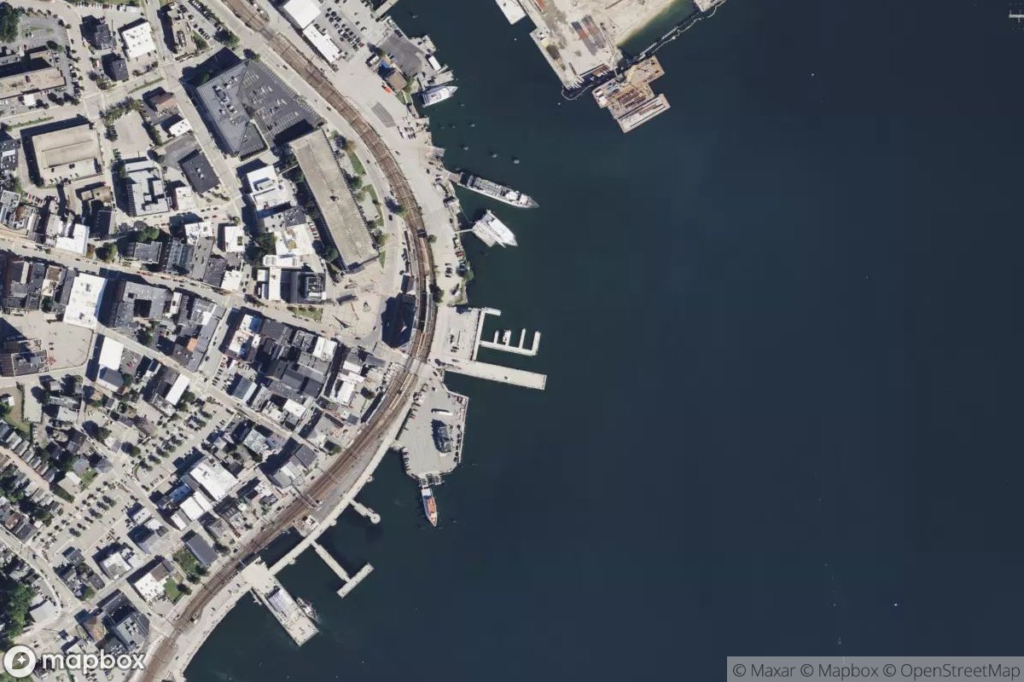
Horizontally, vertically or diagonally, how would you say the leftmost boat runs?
diagonally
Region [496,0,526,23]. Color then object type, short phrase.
white ship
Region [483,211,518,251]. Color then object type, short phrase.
white ship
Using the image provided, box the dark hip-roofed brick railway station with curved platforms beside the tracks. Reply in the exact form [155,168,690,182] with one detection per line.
[385,228,436,415]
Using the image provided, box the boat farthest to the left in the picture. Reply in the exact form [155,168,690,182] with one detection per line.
[296,597,316,619]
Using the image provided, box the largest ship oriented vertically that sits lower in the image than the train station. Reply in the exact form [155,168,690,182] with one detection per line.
[421,487,439,527]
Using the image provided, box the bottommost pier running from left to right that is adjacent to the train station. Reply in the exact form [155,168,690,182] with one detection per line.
[444,359,546,390]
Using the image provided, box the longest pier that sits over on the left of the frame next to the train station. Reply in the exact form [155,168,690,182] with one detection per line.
[270,433,400,578]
